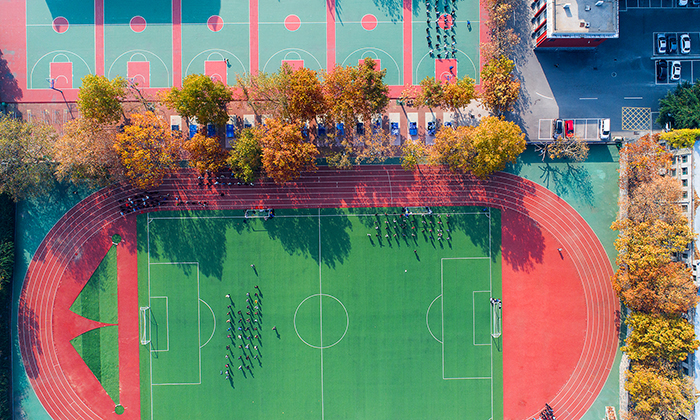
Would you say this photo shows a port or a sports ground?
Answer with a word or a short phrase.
sports ground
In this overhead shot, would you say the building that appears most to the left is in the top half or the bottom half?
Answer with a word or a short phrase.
top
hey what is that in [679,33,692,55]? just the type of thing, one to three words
vehicle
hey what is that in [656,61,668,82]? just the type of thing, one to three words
vehicle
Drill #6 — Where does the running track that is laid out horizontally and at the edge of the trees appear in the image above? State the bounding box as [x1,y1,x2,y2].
[20,166,622,420]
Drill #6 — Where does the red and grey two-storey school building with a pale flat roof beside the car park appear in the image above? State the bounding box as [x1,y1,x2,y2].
[528,0,621,51]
